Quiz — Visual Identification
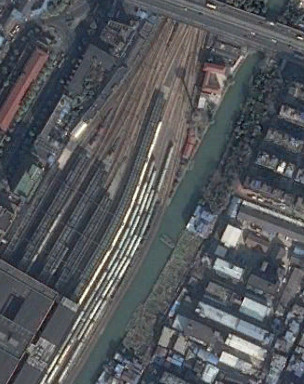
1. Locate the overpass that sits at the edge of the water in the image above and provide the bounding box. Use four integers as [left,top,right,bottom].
[124,0,304,72]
